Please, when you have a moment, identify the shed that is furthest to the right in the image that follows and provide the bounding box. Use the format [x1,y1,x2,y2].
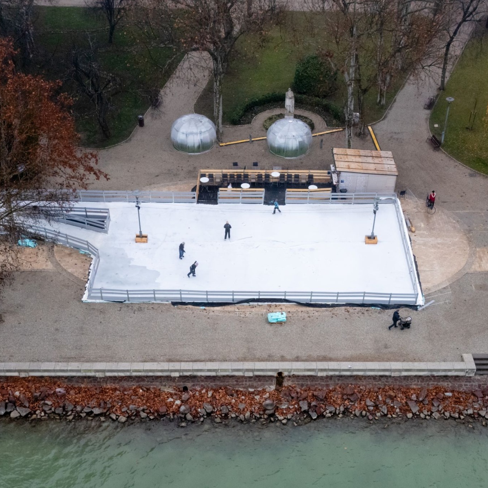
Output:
[332,147,401,200]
